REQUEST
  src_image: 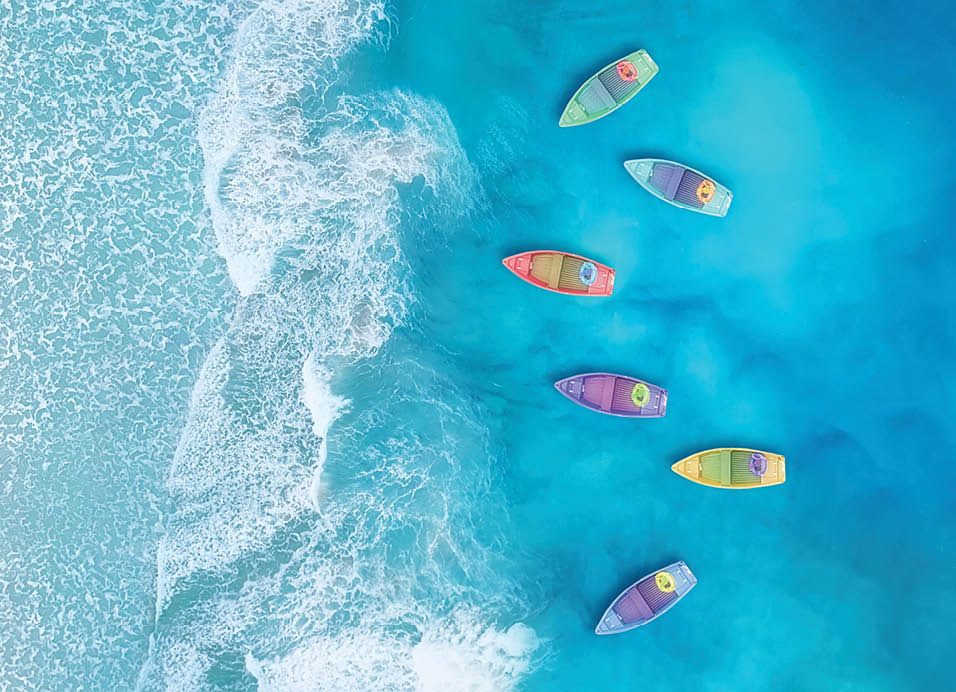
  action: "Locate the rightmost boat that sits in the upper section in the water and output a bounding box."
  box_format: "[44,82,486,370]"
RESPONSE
[624,159,734,218]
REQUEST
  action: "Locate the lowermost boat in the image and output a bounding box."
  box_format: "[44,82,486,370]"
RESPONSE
[596,561,697,636]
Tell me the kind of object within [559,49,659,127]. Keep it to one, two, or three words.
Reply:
boat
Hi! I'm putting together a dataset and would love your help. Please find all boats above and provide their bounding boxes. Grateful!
[672,448,786,489]
[502,251,615,296]
[596,561,697,636]
[555,374,668,417]
[624,159,734,218]
[559,49,659,127]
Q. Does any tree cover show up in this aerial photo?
No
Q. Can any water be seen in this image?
Yes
